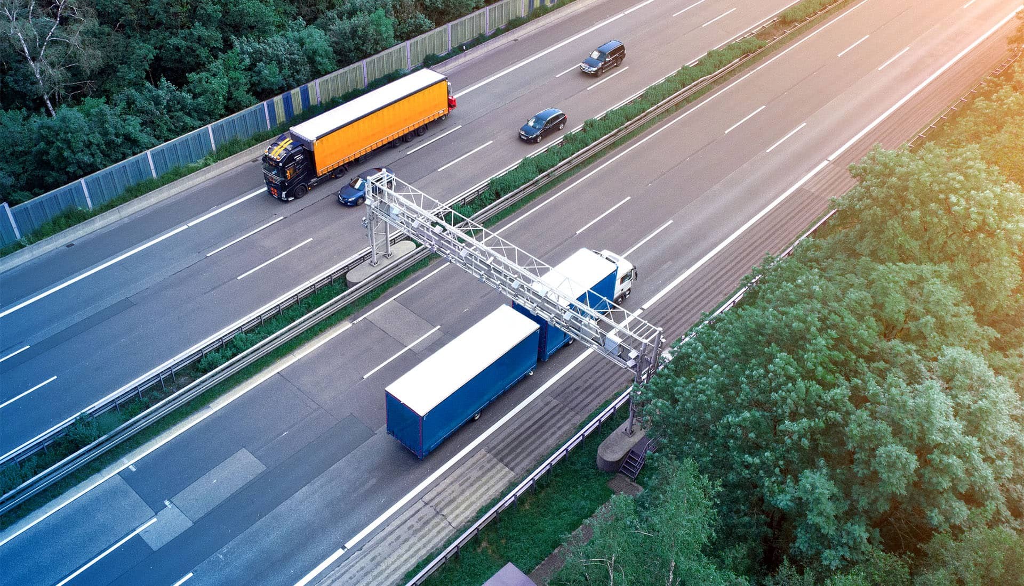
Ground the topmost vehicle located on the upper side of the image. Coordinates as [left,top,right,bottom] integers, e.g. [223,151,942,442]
[578,40,626,76]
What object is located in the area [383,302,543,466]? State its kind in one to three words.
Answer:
trailer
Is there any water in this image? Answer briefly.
No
